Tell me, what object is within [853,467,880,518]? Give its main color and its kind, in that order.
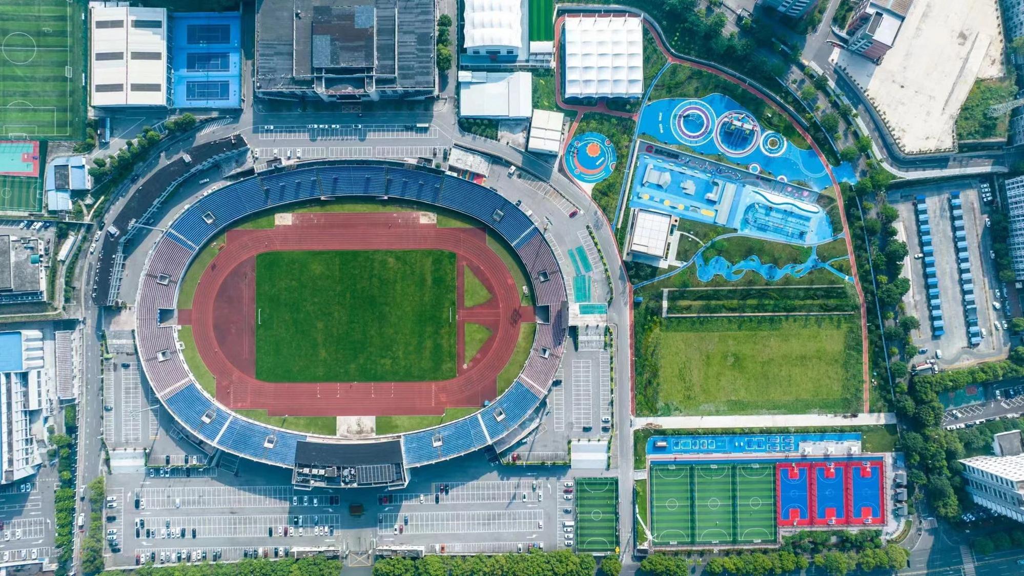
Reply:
blue basketball court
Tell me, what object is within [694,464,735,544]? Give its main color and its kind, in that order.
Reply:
green soccer field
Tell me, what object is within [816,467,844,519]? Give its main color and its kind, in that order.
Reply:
blue basketball court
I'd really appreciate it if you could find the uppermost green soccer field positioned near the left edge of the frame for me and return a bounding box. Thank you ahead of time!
[0,0,86,141]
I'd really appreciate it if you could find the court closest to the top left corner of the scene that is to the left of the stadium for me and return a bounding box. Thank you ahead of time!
[0,141,39,177]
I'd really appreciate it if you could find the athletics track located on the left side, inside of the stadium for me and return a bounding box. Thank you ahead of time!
[177,212,535,416]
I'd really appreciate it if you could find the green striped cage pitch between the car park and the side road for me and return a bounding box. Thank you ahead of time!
[576,477,618,552]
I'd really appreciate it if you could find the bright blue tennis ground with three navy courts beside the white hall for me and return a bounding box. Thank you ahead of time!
[173,12,241,108]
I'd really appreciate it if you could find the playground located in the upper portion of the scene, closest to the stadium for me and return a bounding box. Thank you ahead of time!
[564,132,617,184]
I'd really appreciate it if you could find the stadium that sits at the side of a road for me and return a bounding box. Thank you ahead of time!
[135,156,568,490]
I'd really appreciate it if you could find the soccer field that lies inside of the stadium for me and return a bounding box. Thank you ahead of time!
[256,250,457,382]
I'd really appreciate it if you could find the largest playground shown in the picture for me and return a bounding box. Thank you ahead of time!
[637,92,850,192]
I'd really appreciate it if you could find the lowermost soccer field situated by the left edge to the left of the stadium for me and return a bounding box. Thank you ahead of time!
[0,176,43,212]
